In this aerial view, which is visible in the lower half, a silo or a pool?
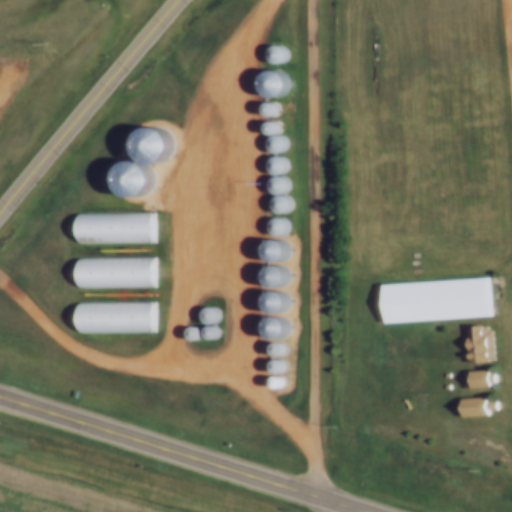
silo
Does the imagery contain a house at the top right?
No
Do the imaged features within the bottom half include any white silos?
Yes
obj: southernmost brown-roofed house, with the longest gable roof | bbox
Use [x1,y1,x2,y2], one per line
[458,398,498,418]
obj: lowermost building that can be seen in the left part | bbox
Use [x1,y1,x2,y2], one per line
[73,302,159,334]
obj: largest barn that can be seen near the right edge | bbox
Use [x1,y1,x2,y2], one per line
[380,276,496,325]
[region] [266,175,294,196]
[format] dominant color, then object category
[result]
white silo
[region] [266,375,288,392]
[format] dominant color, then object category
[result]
white silo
